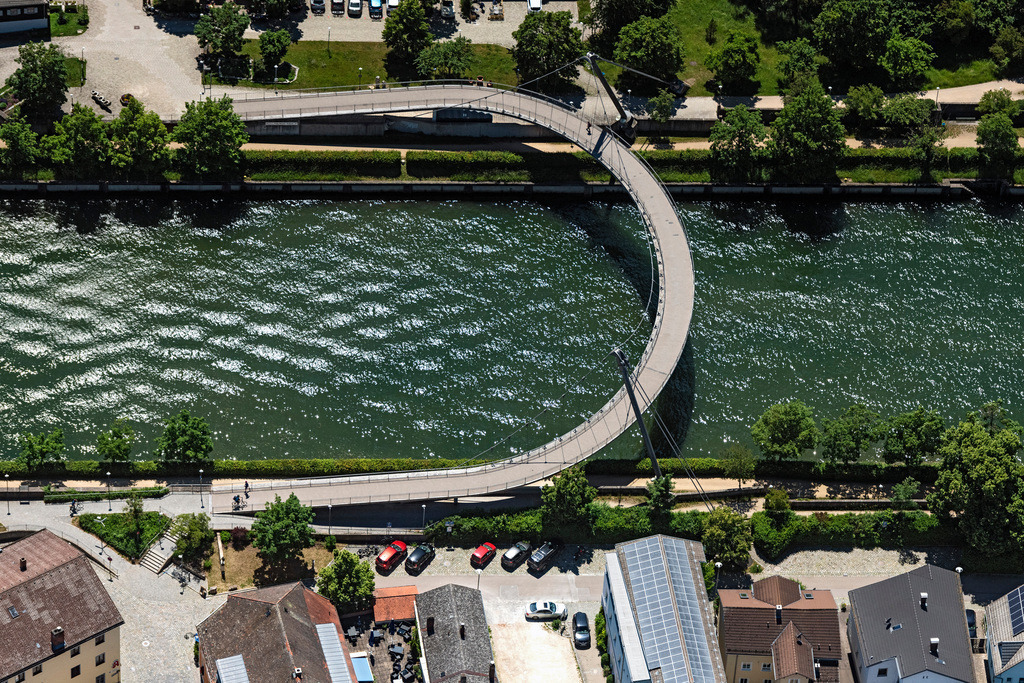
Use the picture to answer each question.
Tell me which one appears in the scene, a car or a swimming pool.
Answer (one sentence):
Visible in the photo is a car.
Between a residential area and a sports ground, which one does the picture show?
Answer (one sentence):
What you see here is a residential area.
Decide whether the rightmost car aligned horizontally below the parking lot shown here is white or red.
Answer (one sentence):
The rightmost car aligned horizontally below the parking lot looks white in the image.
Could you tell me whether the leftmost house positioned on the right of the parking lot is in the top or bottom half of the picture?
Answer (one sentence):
It is in the bottom half that the leftmost house positioned on the right of the parking lot appears.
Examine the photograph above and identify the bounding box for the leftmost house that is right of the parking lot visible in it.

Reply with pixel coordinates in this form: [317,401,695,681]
[606,534,730,683]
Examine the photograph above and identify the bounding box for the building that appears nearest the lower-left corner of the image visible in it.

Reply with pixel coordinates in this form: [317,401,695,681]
[0,529,125,683]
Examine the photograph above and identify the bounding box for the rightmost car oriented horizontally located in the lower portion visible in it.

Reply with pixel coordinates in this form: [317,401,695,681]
[524,599,568,620]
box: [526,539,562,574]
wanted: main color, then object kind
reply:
black car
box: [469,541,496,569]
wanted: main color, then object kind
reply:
red car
